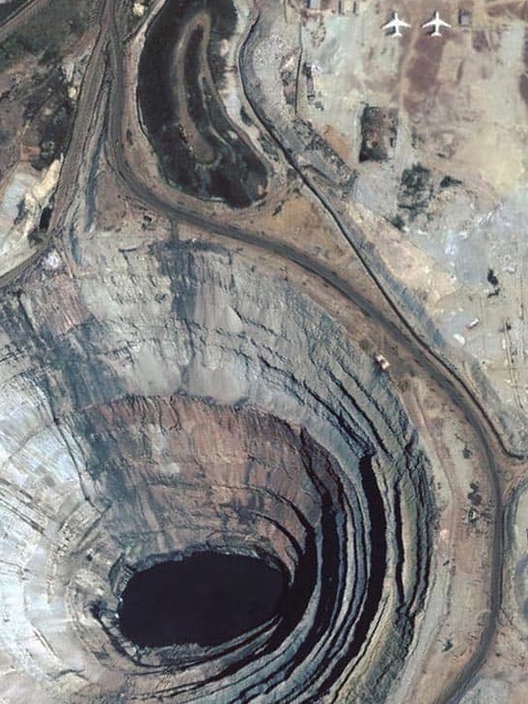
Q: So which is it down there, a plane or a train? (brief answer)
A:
plane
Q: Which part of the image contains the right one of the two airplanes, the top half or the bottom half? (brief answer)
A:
top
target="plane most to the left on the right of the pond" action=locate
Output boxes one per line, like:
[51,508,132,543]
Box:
[384,12,411,37]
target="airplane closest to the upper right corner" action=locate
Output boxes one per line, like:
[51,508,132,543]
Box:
[424,12,450,36]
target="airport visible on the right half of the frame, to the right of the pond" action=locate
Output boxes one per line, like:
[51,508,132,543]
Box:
[346,0,480,51]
